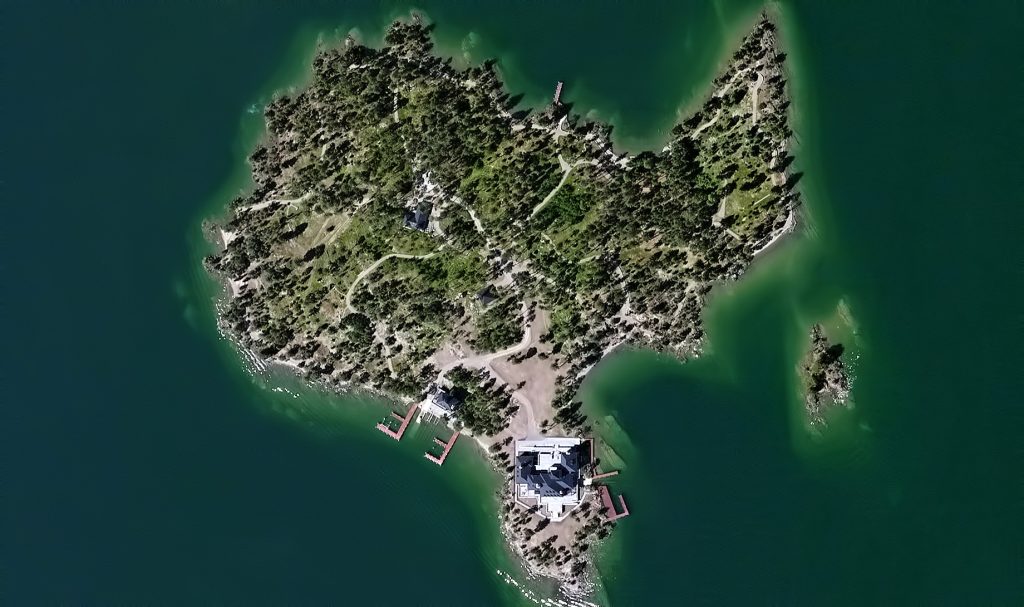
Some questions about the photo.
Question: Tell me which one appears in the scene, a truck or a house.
house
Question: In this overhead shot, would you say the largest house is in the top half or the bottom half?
bottom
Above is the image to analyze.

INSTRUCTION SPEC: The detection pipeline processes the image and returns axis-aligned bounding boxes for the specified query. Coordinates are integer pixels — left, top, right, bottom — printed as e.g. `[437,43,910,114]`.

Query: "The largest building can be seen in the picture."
[515,438,594,522]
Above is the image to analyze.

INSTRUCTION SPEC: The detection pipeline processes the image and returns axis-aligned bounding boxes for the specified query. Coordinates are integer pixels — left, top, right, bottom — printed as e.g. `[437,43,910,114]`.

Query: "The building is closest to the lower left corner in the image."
[419,384,458,423]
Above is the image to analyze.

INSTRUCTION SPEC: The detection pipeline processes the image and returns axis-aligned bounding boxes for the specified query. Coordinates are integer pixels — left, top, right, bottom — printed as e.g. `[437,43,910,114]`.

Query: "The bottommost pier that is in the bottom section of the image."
[599,486,630,520]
